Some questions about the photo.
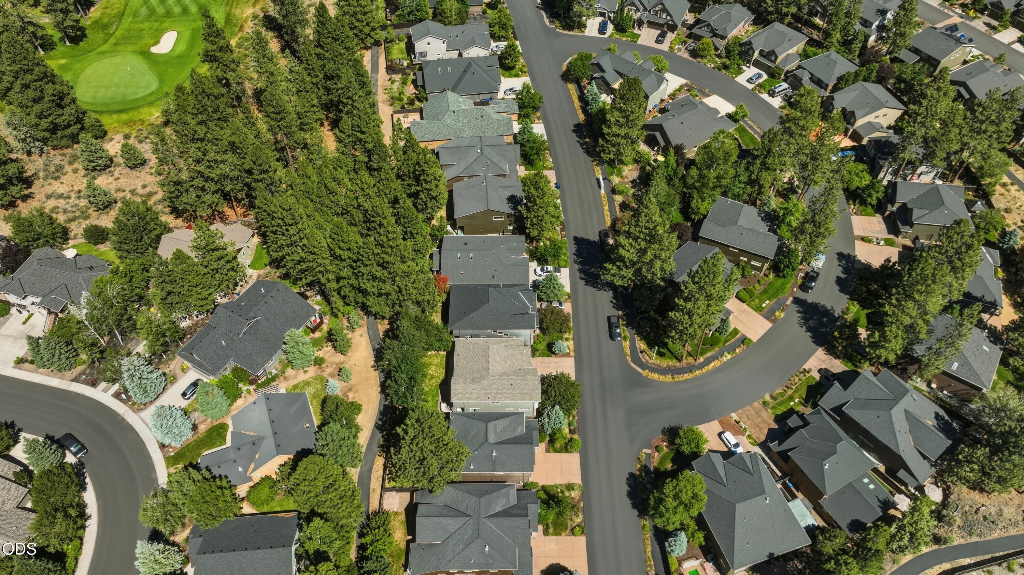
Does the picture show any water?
No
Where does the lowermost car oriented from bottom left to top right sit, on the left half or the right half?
left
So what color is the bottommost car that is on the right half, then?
white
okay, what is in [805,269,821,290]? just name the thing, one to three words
vehicle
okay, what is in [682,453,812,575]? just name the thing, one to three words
house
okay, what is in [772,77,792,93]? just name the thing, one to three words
vehicle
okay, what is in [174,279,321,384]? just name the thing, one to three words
house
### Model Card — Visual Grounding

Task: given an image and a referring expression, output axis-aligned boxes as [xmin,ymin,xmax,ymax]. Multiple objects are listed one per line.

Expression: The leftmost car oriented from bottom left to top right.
[179,376,203,398]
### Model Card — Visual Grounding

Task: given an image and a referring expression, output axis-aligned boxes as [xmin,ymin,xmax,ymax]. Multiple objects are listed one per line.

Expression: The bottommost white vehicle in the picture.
[721,428,745,453]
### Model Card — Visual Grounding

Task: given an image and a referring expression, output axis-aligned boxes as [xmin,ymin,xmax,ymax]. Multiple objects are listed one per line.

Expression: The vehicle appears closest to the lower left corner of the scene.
[60,431,85,455]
